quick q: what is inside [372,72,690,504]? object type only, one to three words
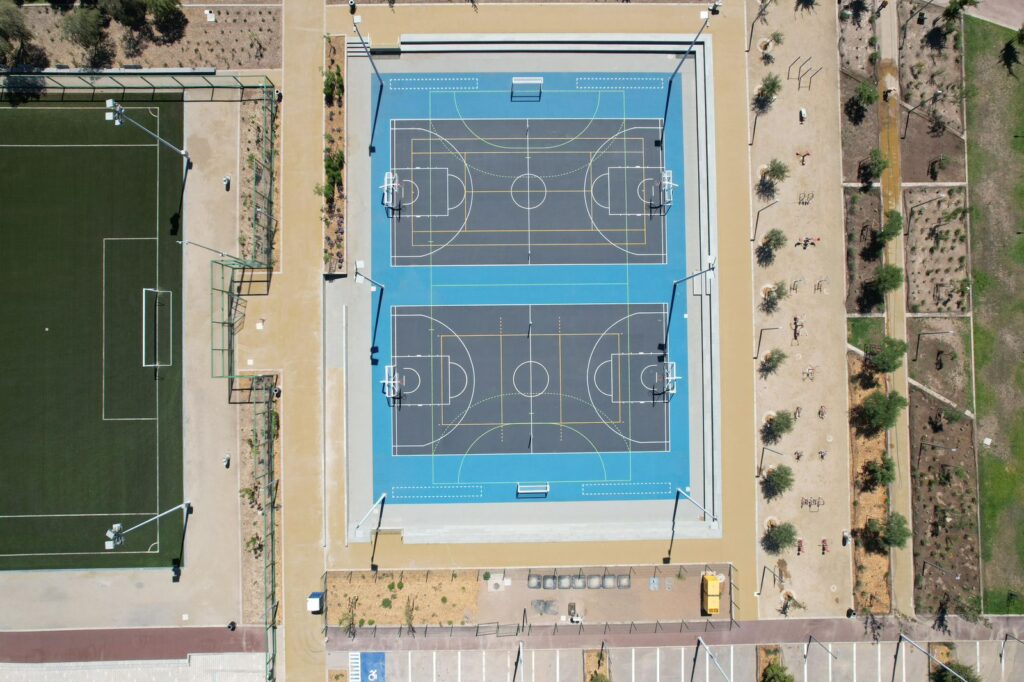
sports court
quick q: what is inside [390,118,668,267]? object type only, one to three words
basketball court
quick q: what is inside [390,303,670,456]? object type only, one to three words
basketball court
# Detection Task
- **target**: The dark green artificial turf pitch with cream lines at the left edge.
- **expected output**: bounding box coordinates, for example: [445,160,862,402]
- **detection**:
[0,92,183,569]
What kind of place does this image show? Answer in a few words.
sports ground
